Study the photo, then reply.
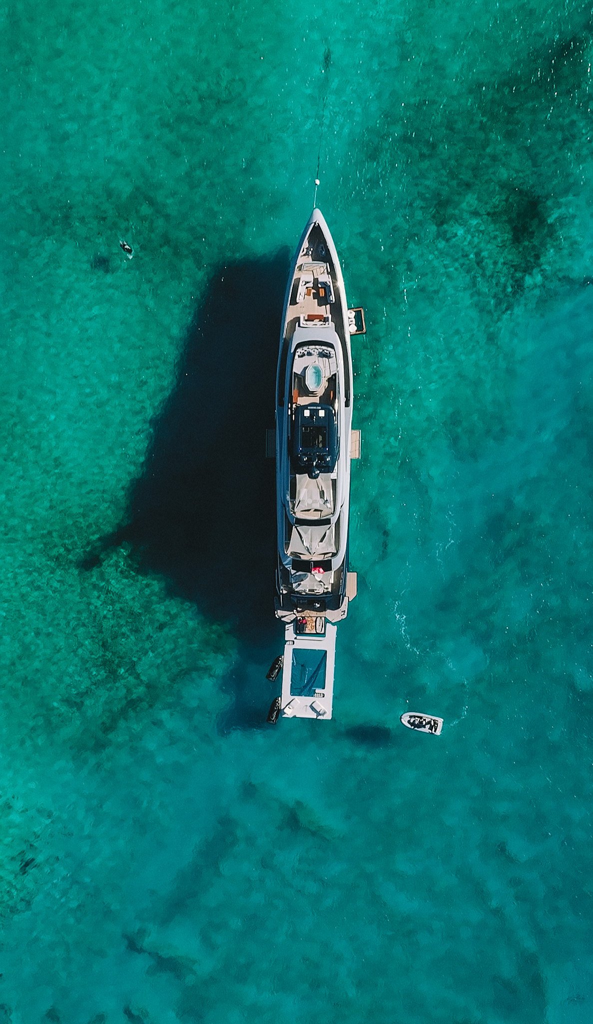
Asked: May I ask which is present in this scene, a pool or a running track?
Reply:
pool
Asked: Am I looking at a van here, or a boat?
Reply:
boat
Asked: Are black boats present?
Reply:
Yes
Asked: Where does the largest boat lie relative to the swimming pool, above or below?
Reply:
above it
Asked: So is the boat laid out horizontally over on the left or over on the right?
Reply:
right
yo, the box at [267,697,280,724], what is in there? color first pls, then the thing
black boat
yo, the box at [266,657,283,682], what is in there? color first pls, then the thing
black boat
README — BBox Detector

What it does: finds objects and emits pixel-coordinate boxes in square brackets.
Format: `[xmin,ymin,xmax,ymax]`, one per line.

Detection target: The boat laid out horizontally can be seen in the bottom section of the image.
[401,714,444,735]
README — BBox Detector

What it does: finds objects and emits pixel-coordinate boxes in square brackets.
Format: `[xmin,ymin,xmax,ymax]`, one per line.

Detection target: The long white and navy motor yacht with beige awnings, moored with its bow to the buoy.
[266,205,366,623]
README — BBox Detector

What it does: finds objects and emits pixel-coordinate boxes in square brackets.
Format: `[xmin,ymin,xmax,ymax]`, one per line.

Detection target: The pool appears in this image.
[281,623,338,721]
